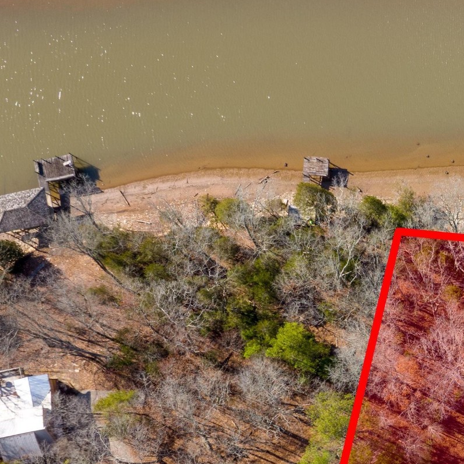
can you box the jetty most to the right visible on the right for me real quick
[302,156,332,183]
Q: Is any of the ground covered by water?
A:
Yes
